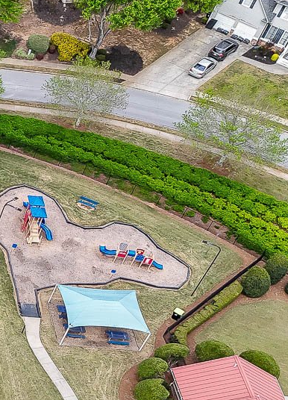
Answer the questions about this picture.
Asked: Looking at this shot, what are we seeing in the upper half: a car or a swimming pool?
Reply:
car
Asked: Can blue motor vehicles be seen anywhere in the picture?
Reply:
No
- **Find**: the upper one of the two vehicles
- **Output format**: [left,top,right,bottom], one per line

[209,41,238,62]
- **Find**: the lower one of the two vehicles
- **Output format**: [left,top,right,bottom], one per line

[189,58,216,78]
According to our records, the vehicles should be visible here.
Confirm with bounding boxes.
[189,58,216,78]
[209,41,238,62]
